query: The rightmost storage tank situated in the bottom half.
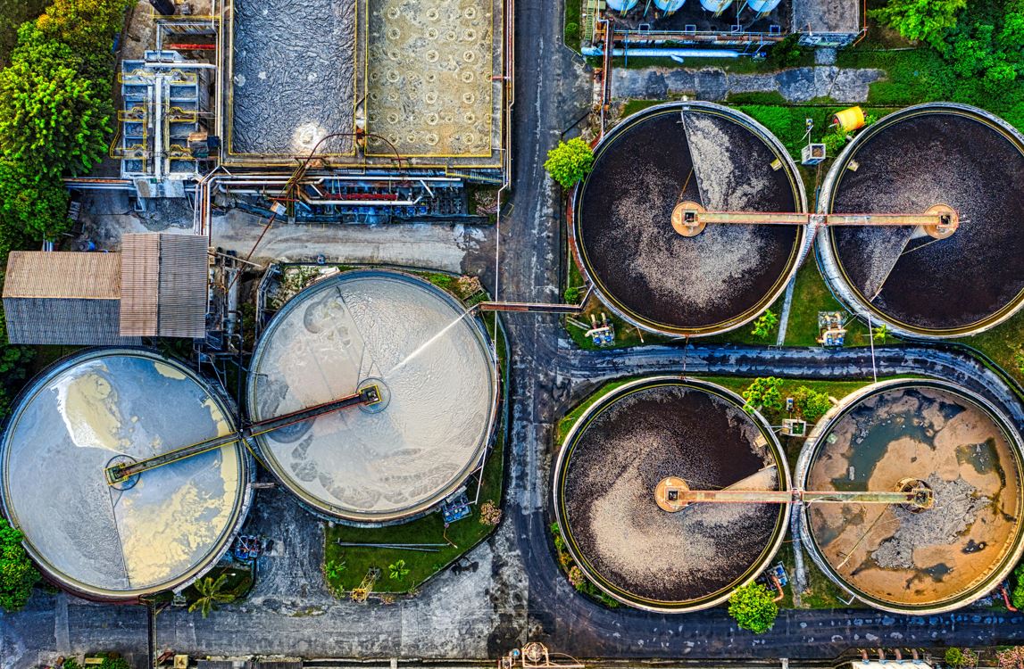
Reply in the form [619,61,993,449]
[789,376,1024,615]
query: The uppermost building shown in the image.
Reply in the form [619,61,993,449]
[781,0,868,48]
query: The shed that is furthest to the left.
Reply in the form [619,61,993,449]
[2,251,143,345]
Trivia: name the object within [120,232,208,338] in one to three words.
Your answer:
shed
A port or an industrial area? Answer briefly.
industrial area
